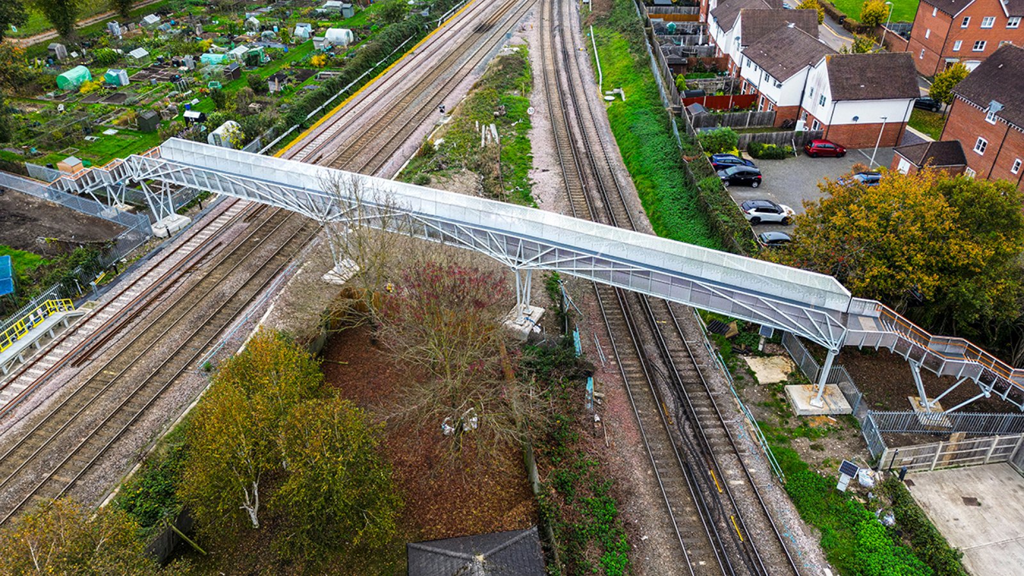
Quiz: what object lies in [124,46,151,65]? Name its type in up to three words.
greenhouse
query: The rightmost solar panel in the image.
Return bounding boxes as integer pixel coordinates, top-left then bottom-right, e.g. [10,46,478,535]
[838,456,863,490]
